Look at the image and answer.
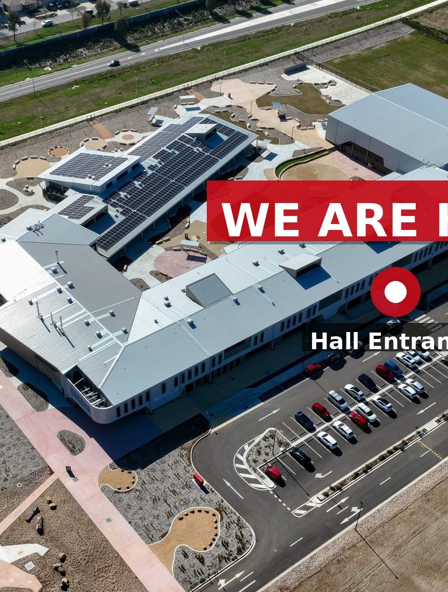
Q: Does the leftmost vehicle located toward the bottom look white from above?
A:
No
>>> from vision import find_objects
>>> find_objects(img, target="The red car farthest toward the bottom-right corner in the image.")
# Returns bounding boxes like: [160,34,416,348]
[350,413,367,429]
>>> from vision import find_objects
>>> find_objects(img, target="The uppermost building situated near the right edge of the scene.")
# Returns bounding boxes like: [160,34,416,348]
[329,82,448,173]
